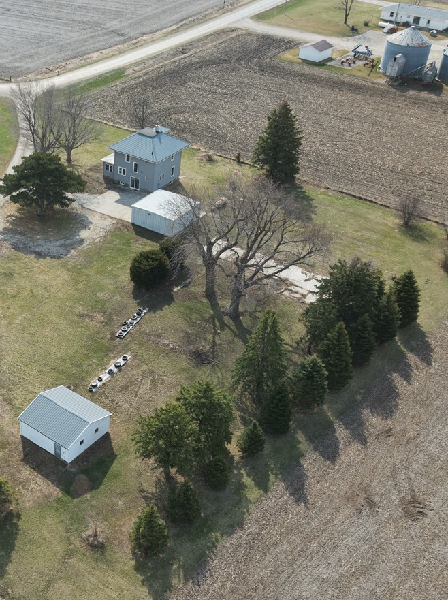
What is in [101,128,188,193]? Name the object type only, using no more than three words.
house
